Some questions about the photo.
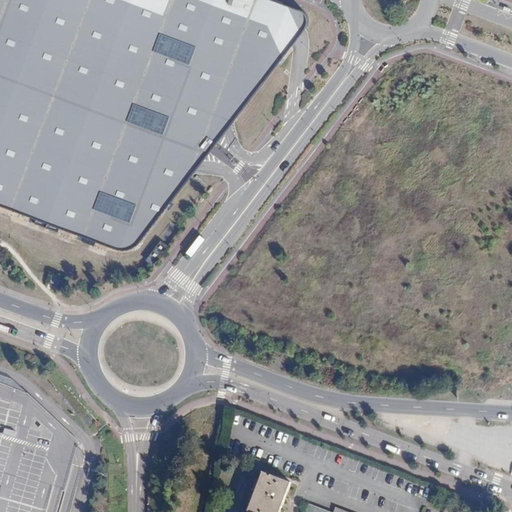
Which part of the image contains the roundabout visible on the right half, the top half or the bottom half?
top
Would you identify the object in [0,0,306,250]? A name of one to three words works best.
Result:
warehouse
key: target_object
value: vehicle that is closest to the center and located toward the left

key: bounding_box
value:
[186,236,204,258]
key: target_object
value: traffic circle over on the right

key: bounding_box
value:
[344,0,458,65]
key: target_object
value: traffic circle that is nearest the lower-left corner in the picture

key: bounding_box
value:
[78,290,205,416]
